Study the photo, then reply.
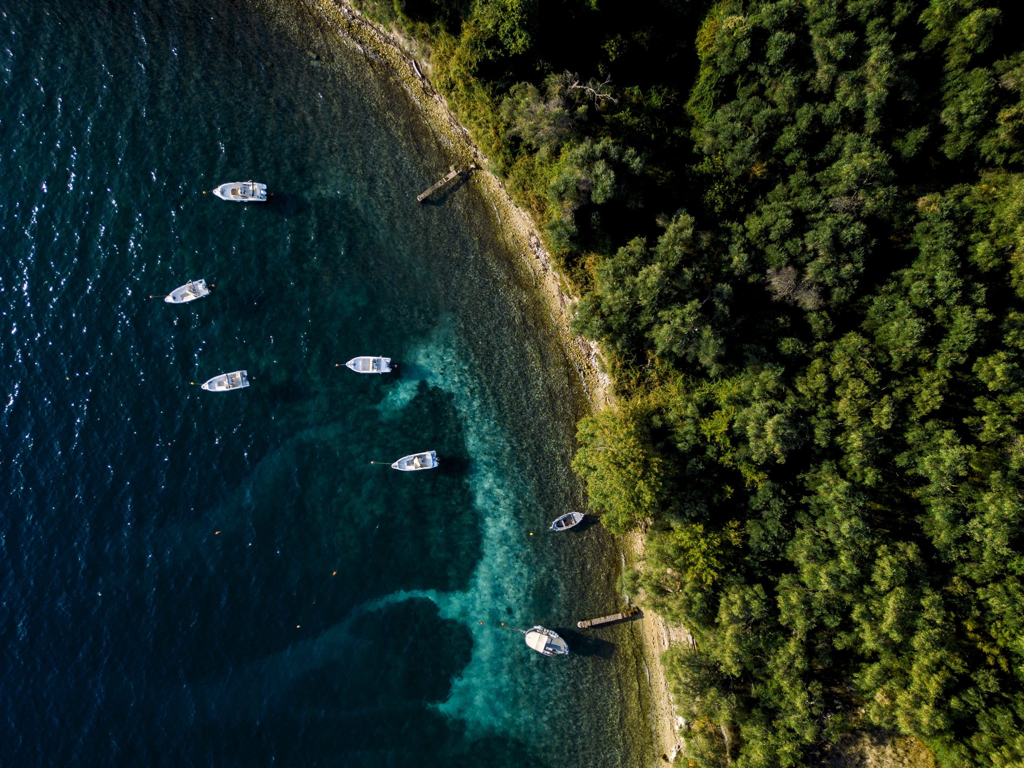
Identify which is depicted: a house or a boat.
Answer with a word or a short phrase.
boat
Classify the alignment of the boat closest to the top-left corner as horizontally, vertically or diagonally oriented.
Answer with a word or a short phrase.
horizontally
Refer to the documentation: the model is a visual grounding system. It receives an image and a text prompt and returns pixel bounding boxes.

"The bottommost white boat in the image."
[515,625,579,655]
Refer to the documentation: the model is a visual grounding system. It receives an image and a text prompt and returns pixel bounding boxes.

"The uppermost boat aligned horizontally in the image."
[212,178,275,203]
